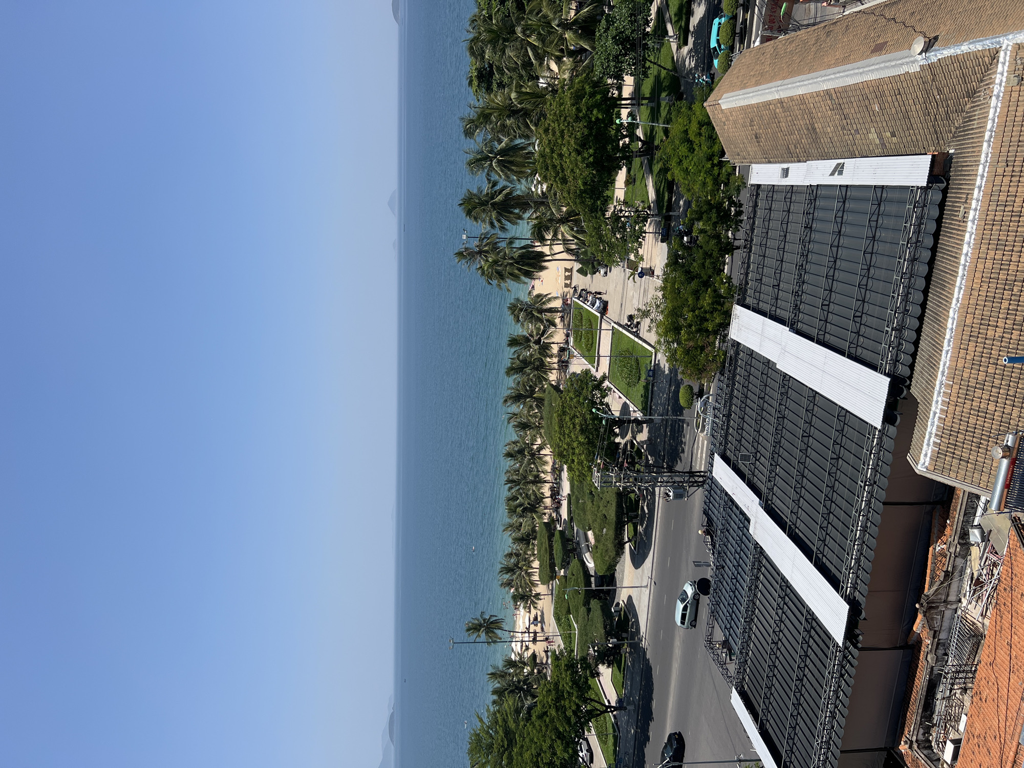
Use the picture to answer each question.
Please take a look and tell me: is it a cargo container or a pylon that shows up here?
pylon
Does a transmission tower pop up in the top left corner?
No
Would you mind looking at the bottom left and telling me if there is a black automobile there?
No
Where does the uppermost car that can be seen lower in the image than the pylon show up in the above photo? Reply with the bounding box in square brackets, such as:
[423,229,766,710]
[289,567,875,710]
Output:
[670,575,698,629]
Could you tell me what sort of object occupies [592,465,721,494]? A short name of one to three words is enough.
pylon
